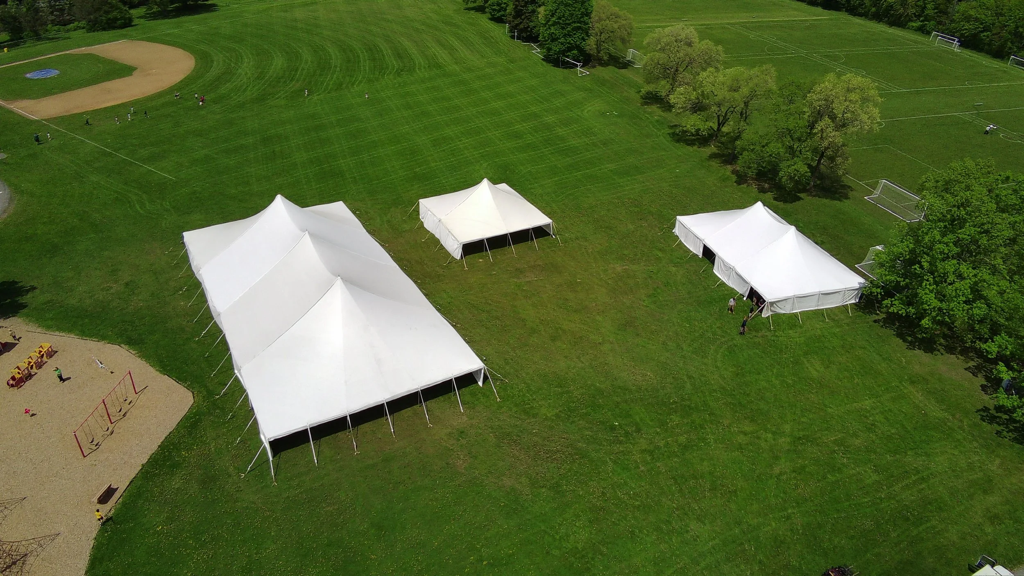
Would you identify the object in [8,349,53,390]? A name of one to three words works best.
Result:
train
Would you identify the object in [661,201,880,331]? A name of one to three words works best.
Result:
tent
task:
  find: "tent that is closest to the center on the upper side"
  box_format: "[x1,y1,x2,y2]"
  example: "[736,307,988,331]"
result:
[403,177,564,269]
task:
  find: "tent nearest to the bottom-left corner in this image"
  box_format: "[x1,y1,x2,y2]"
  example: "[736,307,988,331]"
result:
[165,194,504,486]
